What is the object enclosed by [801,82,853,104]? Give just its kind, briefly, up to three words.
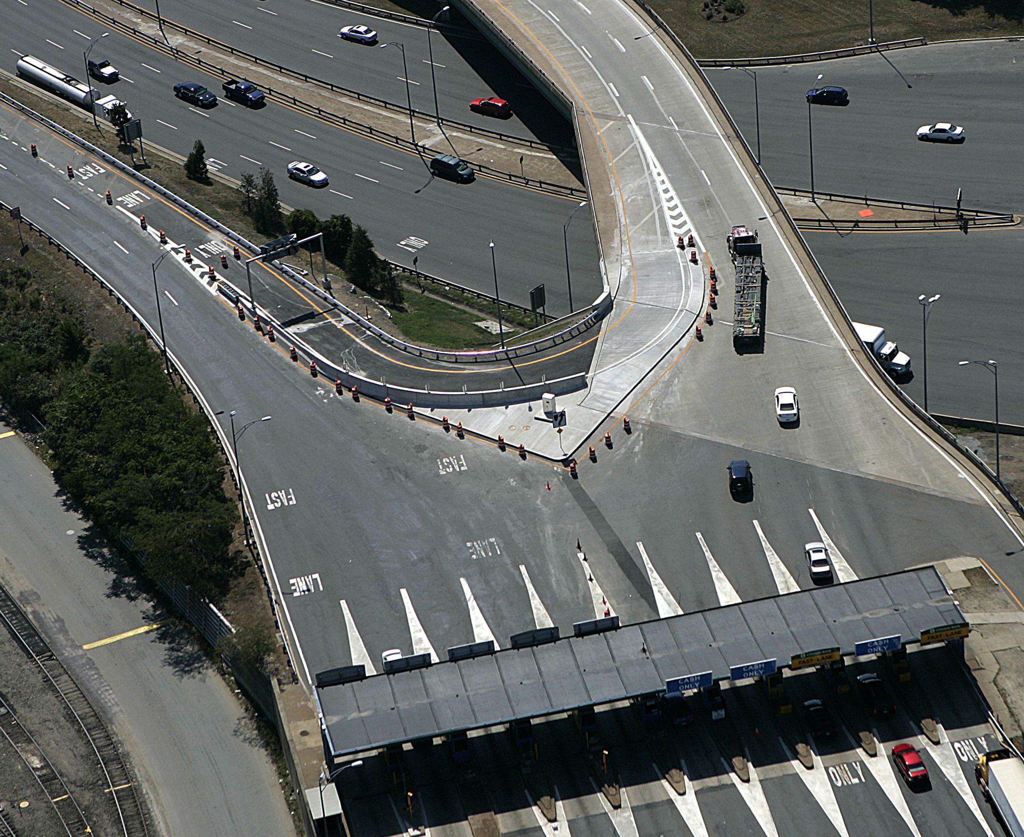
car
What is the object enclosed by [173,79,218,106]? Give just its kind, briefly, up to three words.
car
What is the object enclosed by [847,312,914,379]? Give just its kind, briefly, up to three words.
truck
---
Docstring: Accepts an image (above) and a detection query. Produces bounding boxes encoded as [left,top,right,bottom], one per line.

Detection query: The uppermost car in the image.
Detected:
[336,22,382,44]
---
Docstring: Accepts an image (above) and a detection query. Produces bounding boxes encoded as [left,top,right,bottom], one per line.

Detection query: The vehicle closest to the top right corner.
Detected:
[914,119,969,141]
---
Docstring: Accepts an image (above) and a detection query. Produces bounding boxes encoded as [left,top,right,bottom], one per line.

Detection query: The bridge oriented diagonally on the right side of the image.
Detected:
[440,0,1024,541]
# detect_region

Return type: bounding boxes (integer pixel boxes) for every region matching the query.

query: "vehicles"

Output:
[726,460,753,496]
[87,52,121,81]
[466,94,515,117]
[219,77,270,107]
[284,160,331,186]
[889,738,933,789]
[173,79,218,106]
[914,119,969,141]
[380,650,407,671]
[850,668,893,715]
[803,540,834,583]
[336,22,382,44]
[425,148,478,180]
[797,689,839,736]
[10,55,139,138]
[772,385,800,423]
[847,312,914,379]
[978,758,1024,837]
[801,82,853,104]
